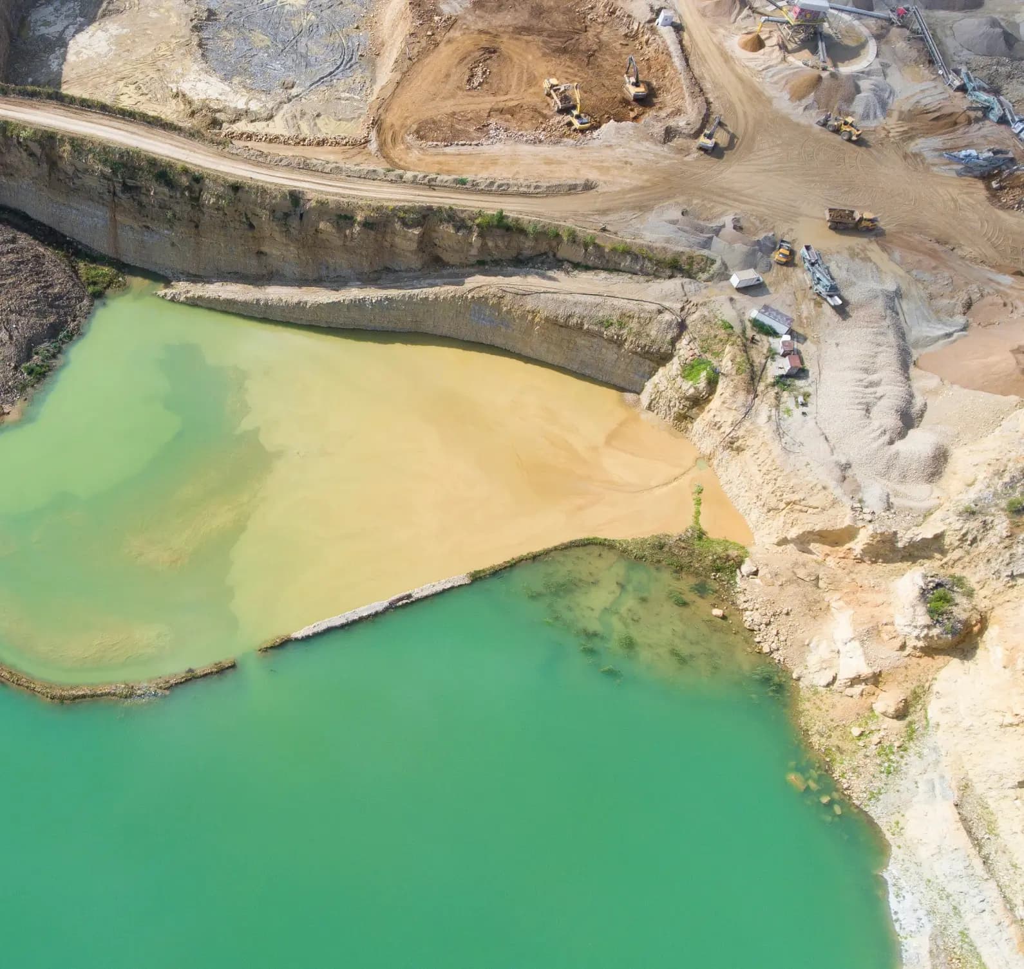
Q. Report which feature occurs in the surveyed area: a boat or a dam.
dam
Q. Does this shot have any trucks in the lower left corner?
No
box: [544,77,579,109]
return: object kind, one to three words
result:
truck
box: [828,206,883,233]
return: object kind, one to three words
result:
truck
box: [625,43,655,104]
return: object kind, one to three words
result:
work vehicle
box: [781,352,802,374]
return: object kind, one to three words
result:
shed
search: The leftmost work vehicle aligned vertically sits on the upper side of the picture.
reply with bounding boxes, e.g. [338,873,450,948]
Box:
[571,74,597,130]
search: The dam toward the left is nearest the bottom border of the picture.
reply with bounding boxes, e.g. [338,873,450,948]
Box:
[0,658,240,702]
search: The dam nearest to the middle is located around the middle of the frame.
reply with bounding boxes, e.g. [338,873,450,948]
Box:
[257,481,761,652]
